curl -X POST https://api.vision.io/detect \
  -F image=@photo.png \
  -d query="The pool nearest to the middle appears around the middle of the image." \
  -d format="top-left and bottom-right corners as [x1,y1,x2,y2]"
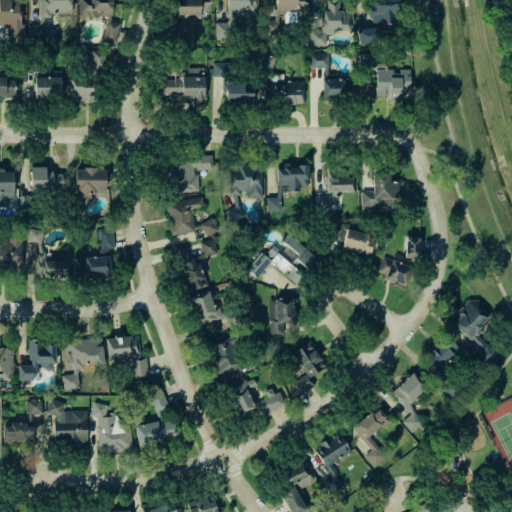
[263,230,284,246]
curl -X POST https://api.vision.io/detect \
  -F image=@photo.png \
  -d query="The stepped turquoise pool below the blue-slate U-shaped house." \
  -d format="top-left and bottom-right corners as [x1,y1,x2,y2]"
[34,375,57,391]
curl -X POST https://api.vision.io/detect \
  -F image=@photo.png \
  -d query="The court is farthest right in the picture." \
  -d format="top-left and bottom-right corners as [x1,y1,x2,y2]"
[484,398,512,467]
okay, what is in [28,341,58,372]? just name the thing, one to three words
house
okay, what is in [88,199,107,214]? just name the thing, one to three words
swimming pool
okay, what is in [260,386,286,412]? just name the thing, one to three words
building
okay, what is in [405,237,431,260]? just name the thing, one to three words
house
